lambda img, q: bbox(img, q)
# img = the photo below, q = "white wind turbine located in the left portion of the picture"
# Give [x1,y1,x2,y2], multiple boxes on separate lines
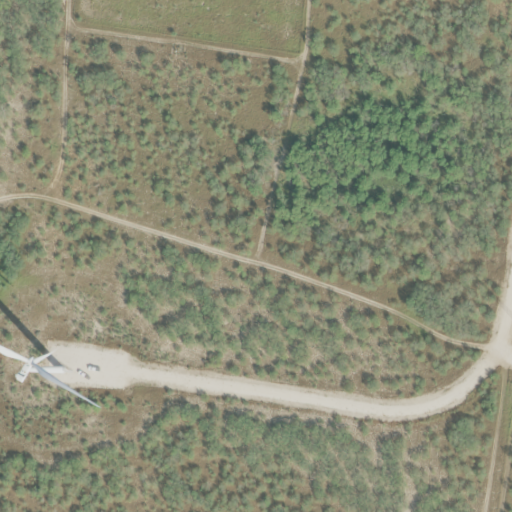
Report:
[0,346,95,408]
